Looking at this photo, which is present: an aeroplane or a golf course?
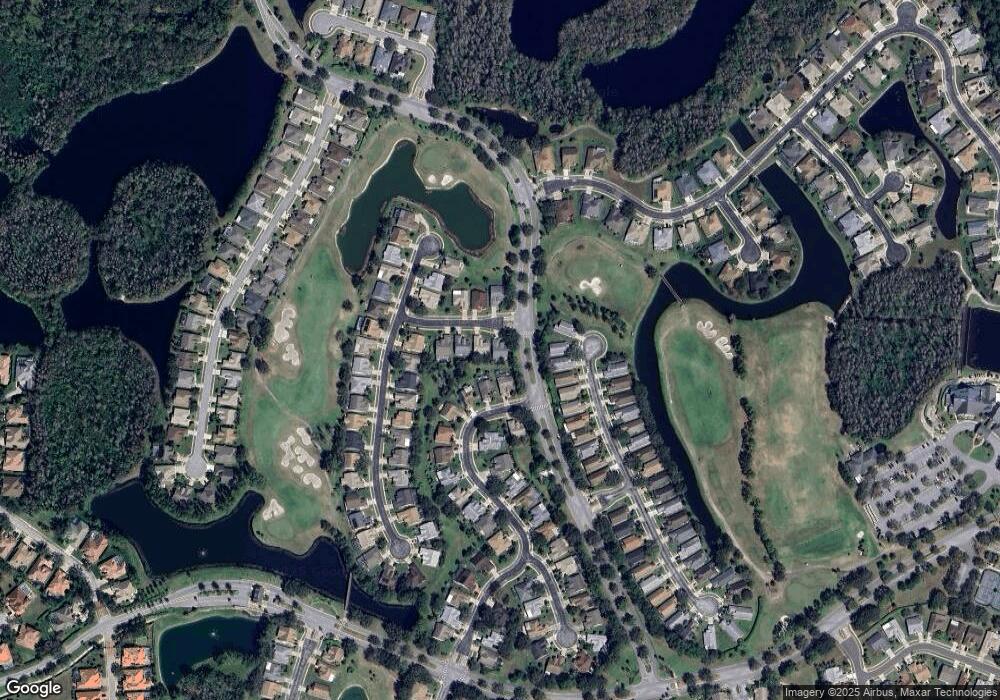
golf course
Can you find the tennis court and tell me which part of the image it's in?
bottom right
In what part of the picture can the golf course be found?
center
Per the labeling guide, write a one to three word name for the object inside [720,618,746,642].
house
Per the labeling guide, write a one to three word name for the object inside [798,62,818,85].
house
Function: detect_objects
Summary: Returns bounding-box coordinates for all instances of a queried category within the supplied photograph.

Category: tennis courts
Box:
[974,567,1000,610]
